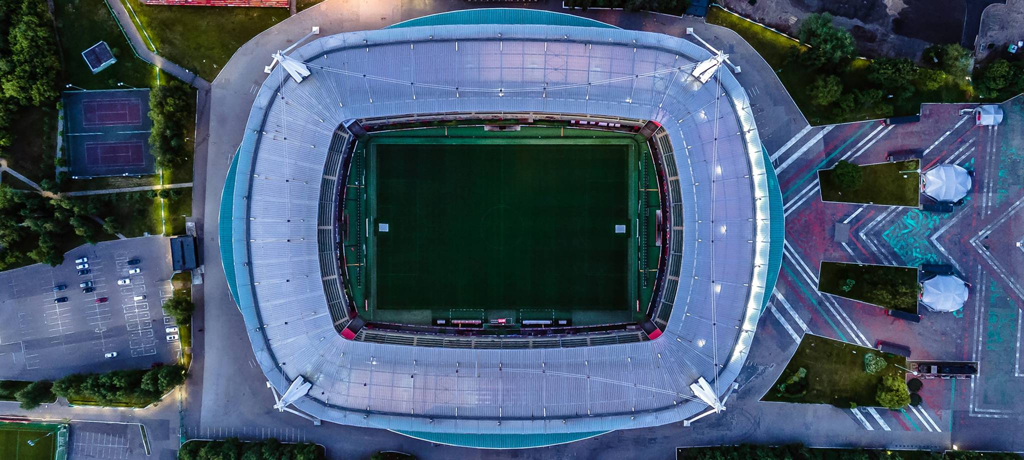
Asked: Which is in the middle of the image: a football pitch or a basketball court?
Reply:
football pitch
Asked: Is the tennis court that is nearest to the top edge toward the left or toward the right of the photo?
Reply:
left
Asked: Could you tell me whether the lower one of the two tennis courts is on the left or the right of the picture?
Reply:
left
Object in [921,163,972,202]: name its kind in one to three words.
tent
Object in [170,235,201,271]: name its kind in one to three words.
building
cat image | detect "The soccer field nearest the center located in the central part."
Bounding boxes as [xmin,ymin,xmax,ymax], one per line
[342,125,663,331]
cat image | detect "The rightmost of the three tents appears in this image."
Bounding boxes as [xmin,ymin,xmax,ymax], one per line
[974,105,1003,125]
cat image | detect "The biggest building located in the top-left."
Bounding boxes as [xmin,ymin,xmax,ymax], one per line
[82,41,118,72]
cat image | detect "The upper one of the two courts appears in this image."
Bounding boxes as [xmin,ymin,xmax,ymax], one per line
[64,89,152,134]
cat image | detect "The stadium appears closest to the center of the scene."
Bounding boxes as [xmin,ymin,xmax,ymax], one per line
[218,7,785,450]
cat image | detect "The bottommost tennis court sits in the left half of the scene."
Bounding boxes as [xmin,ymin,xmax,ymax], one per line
[65,130,159,177]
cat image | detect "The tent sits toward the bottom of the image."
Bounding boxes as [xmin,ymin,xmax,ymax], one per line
[920,274,970,312]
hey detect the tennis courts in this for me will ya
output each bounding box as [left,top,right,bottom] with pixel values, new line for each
[65,130,159,177]
[64,89,152,134]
